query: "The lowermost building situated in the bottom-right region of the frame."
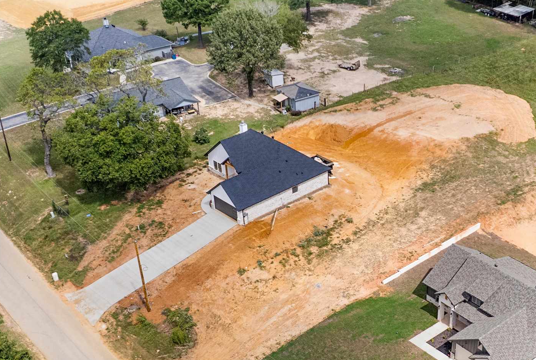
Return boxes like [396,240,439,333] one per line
[410,321,454,360]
